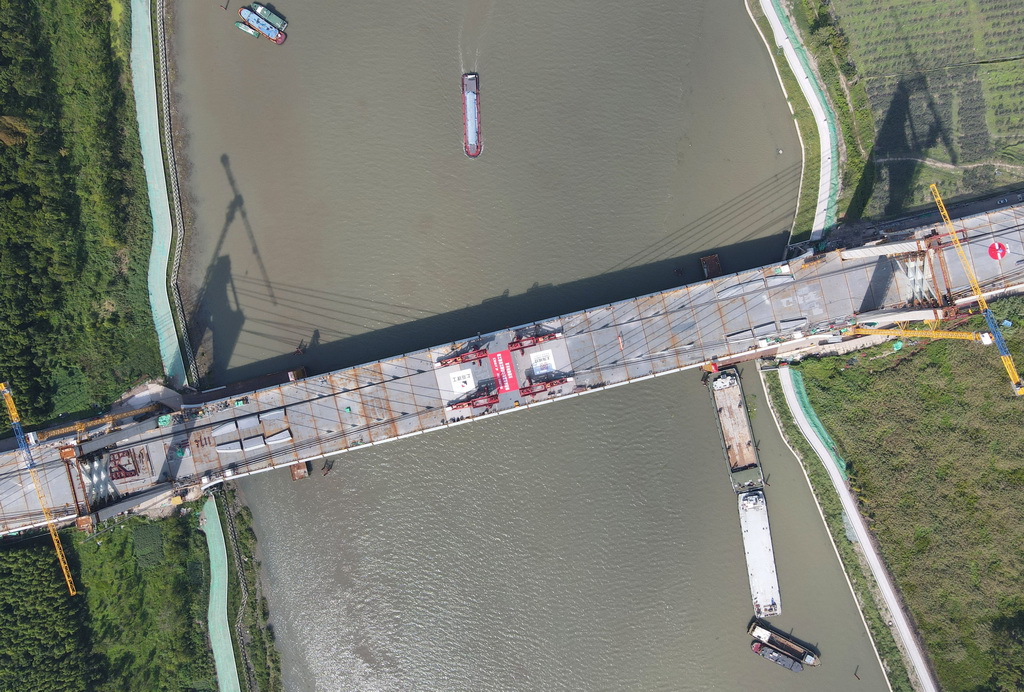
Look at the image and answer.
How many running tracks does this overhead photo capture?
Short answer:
0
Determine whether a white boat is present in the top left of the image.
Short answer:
Yes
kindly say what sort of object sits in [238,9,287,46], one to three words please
ship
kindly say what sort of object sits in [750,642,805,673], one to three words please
boat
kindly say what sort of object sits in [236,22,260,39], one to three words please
boat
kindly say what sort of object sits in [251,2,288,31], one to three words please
ship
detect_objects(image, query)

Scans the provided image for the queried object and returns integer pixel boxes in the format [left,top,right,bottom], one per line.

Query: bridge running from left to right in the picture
[0,204,1024,533]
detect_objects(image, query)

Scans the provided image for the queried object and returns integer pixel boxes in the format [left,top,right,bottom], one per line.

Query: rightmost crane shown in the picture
[847,181,1024,401]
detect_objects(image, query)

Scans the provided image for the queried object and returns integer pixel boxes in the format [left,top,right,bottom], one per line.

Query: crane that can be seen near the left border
[0,379,168,600]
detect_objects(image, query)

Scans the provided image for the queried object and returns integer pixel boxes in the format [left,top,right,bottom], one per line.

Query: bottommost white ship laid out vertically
[739,490,781,619]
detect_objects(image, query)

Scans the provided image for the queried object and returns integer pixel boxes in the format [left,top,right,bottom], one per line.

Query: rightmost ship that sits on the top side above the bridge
[461,75,481,158]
